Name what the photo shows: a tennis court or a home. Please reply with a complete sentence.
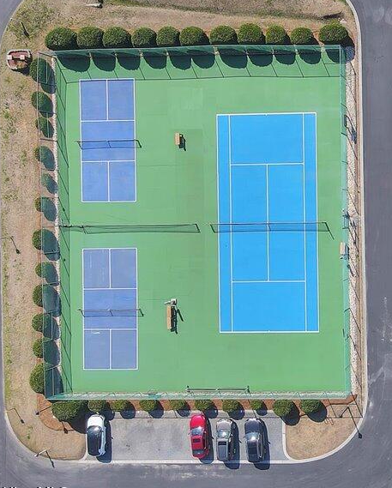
I can see a tennis court in this picture.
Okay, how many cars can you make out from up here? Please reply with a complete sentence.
There are 4 cars in the image.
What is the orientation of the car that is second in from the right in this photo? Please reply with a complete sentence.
In this picture, the car that is second in from the right lies vertically.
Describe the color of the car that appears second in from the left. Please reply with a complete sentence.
The car that appears second in from the left is red.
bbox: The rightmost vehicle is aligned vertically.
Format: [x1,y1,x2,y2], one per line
[242,417,265,463]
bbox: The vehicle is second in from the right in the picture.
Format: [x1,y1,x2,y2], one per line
[215,418,236,462]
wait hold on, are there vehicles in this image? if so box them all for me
[188,414,210,459]
[85,413,109,456]
[242,417,265,463]
[215,418,236,462]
